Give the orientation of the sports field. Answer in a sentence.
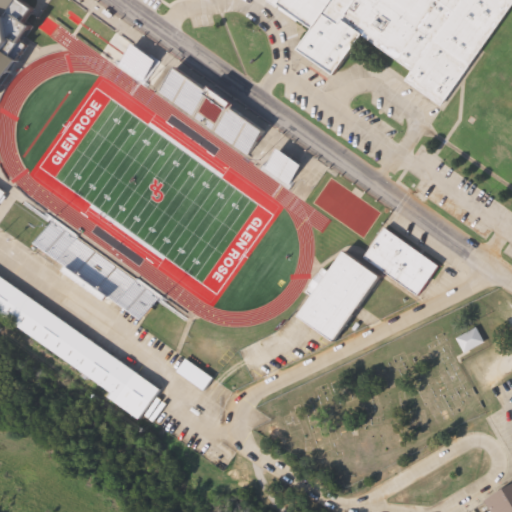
From this overhead view, the sports field appears to run diagonally.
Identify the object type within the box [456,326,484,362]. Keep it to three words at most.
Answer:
house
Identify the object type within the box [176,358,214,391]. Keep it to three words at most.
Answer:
building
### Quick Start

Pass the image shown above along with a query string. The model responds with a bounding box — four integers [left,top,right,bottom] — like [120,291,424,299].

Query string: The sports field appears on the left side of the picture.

[15,72,299,310]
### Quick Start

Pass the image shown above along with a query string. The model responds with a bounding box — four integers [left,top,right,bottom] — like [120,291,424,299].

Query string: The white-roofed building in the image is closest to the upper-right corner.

[274,0,512,106]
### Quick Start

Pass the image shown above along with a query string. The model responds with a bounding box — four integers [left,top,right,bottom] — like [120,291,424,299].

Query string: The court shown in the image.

[312,177,383,240]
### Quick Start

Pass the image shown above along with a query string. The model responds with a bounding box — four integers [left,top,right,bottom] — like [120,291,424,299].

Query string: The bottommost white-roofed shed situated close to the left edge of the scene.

[0,277,161,419]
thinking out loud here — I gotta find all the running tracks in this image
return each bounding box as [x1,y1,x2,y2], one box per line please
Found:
[0,16,331,327]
